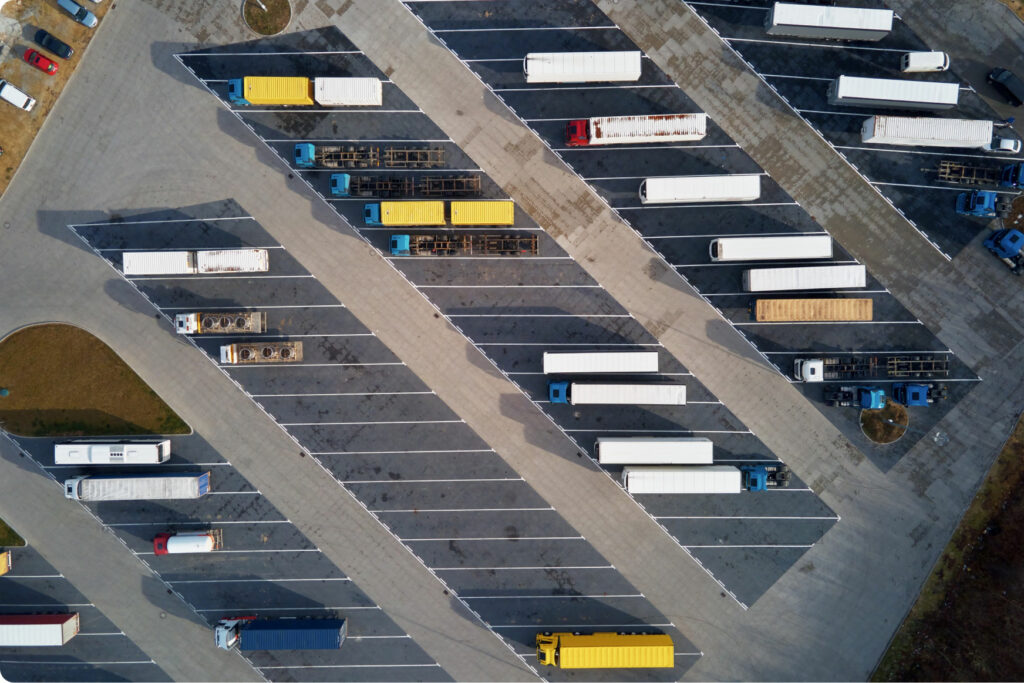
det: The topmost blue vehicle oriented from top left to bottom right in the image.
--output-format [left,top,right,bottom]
[53,0,96,29]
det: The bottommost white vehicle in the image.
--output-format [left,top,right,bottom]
[0,610,81,646]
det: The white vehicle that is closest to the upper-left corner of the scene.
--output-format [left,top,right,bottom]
[0,80,36,113]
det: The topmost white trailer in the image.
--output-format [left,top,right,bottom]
[765,2,893,43]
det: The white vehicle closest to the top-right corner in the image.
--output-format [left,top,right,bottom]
[902,52,948,74]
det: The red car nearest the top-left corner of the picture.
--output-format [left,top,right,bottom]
[22,49,59,76]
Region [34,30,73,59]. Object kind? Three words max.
car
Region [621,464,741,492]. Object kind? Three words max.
trailer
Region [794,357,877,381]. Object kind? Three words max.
truck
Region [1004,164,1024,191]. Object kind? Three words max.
vehicle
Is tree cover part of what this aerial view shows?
No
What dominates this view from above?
paved ground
